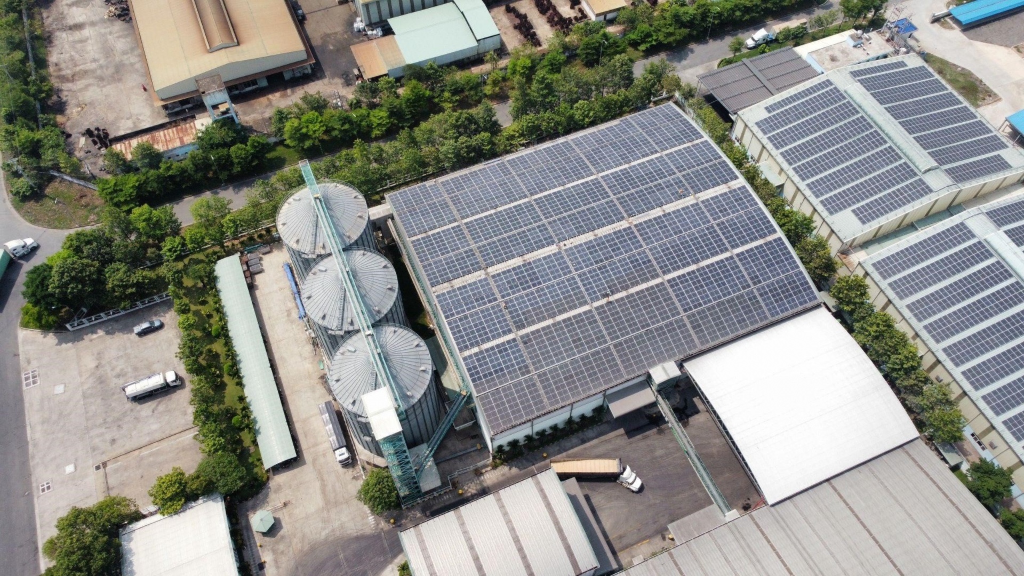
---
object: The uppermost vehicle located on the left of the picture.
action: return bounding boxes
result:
[292,6,306,19]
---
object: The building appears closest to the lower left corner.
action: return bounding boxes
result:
[117,489,244,576]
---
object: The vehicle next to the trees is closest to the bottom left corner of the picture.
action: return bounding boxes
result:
[117,370,185,401]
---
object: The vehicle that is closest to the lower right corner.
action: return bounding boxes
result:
[604,467,648,496]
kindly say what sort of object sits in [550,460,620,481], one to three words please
trailer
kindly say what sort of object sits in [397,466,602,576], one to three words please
building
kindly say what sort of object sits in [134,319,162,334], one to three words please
vehicle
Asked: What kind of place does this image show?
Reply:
industrial area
